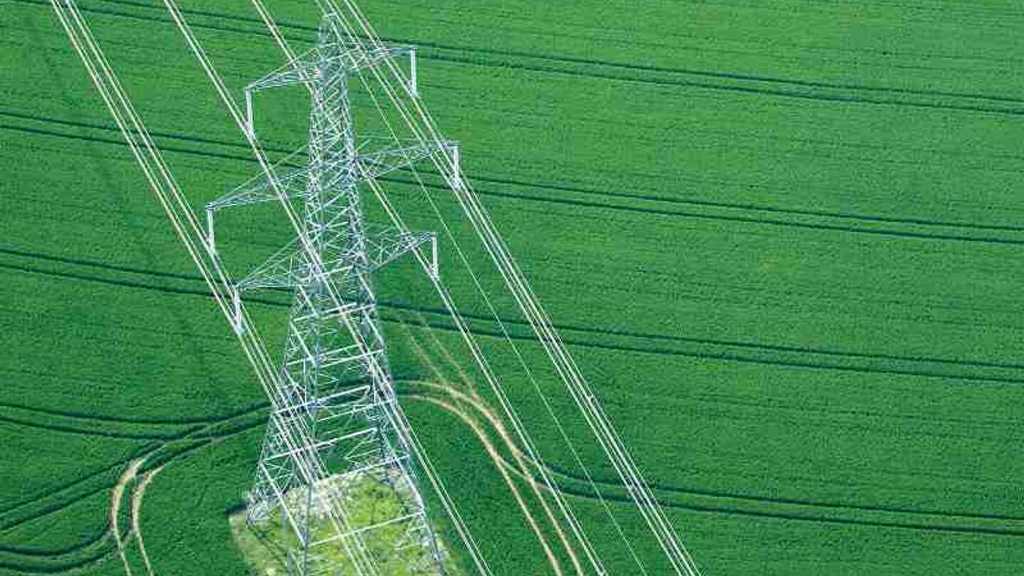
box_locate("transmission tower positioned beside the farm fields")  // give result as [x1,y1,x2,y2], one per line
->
[208,14,458,576]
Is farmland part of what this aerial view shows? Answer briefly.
Yes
